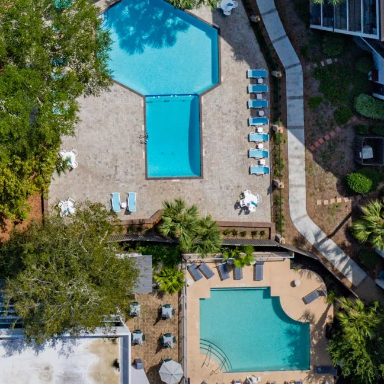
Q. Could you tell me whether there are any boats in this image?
No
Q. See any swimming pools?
Yes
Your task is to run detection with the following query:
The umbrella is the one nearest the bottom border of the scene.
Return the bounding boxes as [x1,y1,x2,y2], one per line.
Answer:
[158,357,183,382]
